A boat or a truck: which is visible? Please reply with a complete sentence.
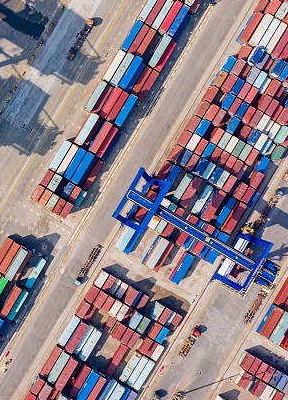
It is a truck that can be seen here.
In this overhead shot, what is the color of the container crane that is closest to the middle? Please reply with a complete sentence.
The color of the container crane that is closest to the middle is blue.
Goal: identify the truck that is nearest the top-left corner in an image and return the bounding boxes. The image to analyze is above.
[69,15,96,55]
